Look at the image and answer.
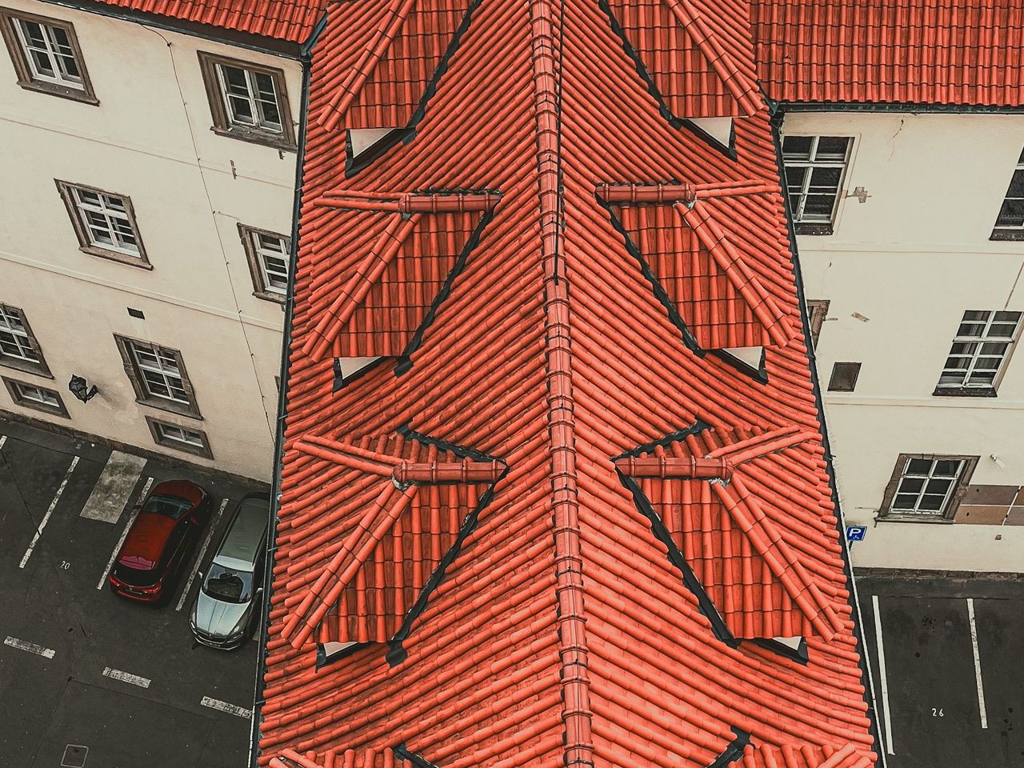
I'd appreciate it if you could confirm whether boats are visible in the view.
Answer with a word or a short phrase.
No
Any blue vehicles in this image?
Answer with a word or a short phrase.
No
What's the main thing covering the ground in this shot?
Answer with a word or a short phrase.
buildings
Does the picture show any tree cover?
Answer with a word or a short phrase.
No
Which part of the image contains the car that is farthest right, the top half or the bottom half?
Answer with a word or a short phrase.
bottom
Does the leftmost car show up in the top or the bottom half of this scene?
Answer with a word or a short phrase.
bottom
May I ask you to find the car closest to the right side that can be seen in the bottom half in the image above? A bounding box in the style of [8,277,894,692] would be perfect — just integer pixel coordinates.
[191,504,269,659]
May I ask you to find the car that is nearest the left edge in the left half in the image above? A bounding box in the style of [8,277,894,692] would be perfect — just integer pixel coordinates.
[113,476,218,610]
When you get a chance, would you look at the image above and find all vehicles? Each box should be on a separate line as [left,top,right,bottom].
[191,504,269,659]
[113,476,218,610]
